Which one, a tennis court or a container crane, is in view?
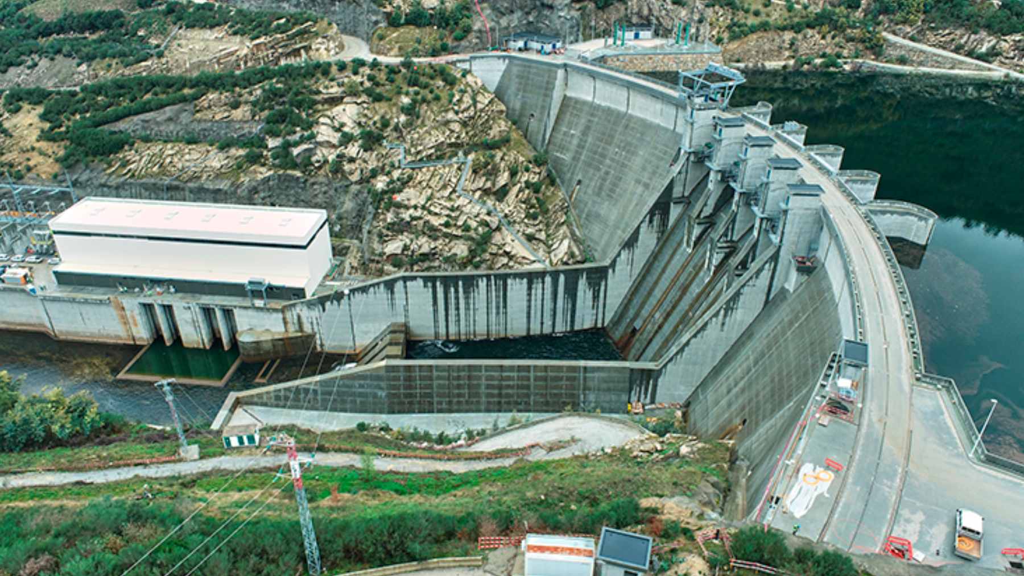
container crane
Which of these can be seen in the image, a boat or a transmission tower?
transmission tower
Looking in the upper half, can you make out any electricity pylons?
No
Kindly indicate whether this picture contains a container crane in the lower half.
No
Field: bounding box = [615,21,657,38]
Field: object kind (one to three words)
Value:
shed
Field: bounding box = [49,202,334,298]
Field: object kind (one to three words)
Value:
building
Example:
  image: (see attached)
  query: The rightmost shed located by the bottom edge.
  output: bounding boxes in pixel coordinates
[599,524,656,576]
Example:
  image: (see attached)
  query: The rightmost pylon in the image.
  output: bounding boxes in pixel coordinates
[270,441,322,576]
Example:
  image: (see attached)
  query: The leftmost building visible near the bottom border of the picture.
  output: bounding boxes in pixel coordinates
[523,533,598,576]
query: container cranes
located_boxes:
[676,62,753,110]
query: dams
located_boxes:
[452,47,1024,571]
